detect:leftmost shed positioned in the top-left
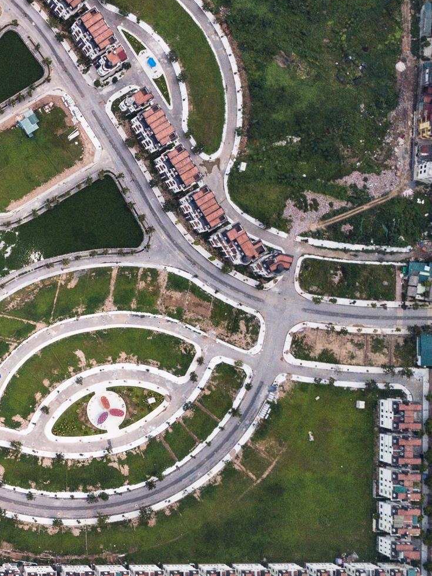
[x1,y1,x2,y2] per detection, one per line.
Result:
[18,109,39,137]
